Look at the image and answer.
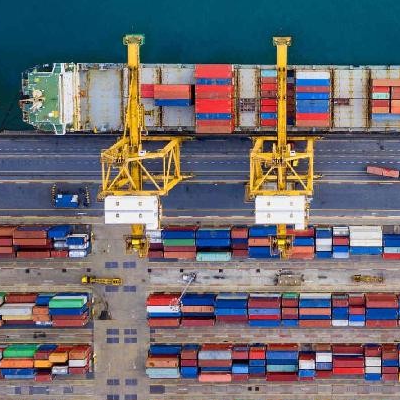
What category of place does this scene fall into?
port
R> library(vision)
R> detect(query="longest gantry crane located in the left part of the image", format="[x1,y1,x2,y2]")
[98,31,194,262]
